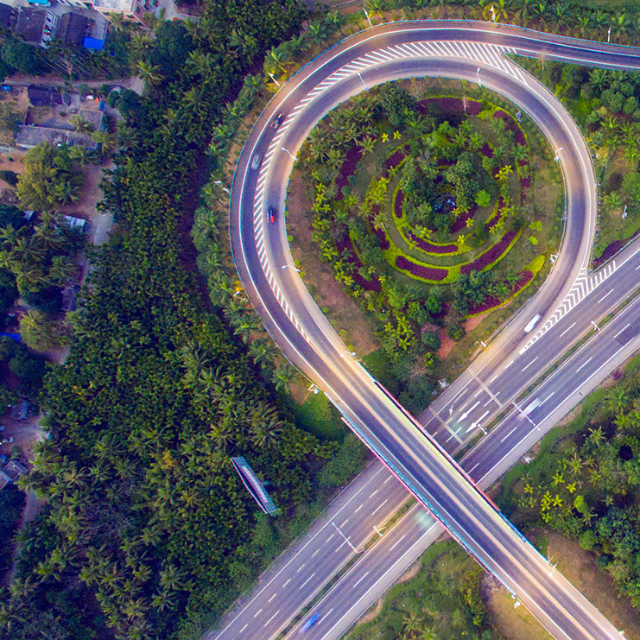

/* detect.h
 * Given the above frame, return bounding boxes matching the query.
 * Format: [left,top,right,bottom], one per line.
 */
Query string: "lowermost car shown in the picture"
[302,614,318,631]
